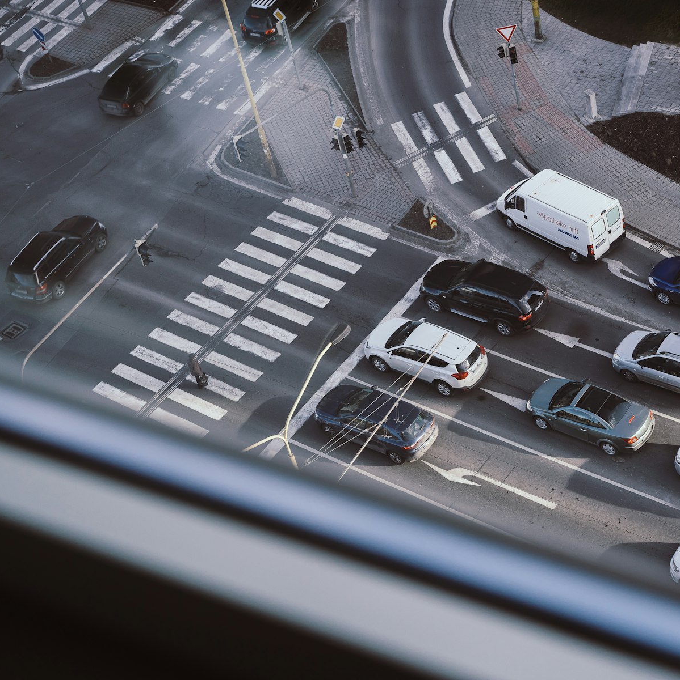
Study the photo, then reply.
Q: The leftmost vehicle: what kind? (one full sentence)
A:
It looks like the leftmost vehicle is a car.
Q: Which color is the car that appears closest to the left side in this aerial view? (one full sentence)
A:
The car that appears closest to the left side is black.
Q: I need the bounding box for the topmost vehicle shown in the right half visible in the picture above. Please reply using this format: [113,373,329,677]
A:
[500,163,632,263]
